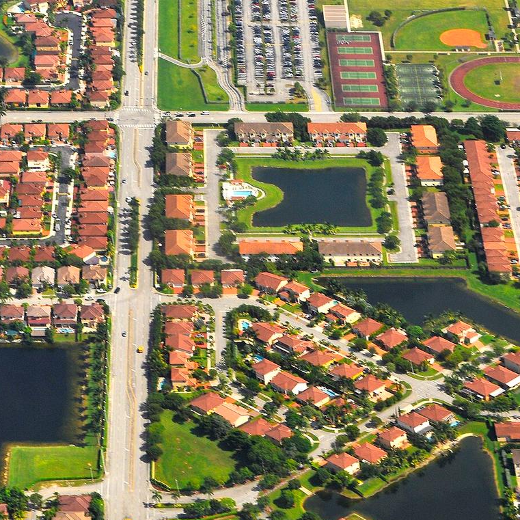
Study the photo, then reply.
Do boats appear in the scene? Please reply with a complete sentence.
No, there appears to be no boat in this shot.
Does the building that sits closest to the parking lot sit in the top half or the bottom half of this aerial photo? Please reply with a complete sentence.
You can find the building that sits closest to the parking lot in the top half.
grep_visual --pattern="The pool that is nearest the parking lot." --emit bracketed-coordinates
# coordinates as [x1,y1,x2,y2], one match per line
[223,183,265,200]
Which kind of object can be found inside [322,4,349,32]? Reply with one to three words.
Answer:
building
